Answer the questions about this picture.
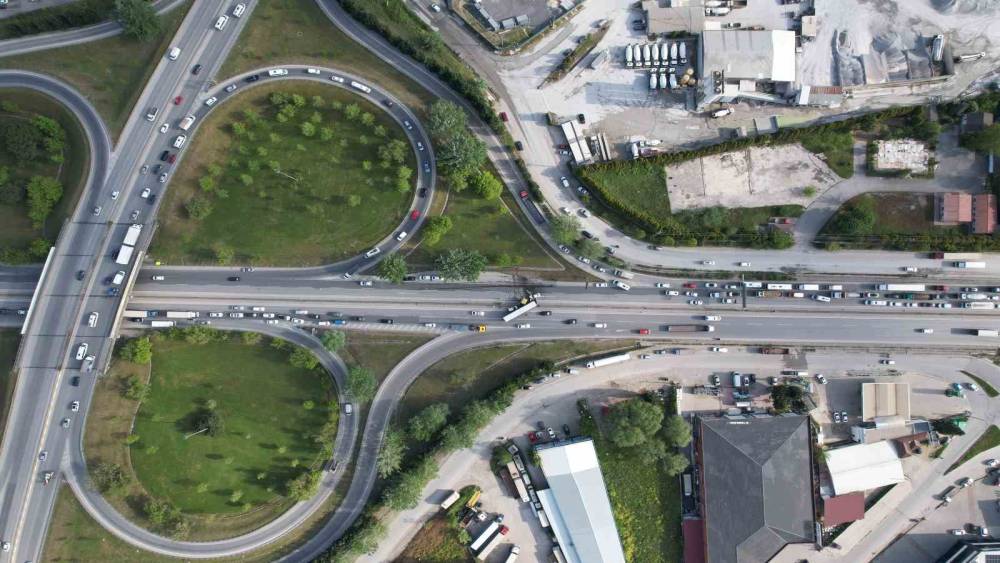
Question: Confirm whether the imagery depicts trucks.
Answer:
Yes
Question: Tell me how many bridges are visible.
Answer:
1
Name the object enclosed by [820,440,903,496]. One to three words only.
shed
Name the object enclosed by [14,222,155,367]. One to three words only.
bridge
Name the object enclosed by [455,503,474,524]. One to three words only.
vehicle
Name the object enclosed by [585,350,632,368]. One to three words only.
vehicle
